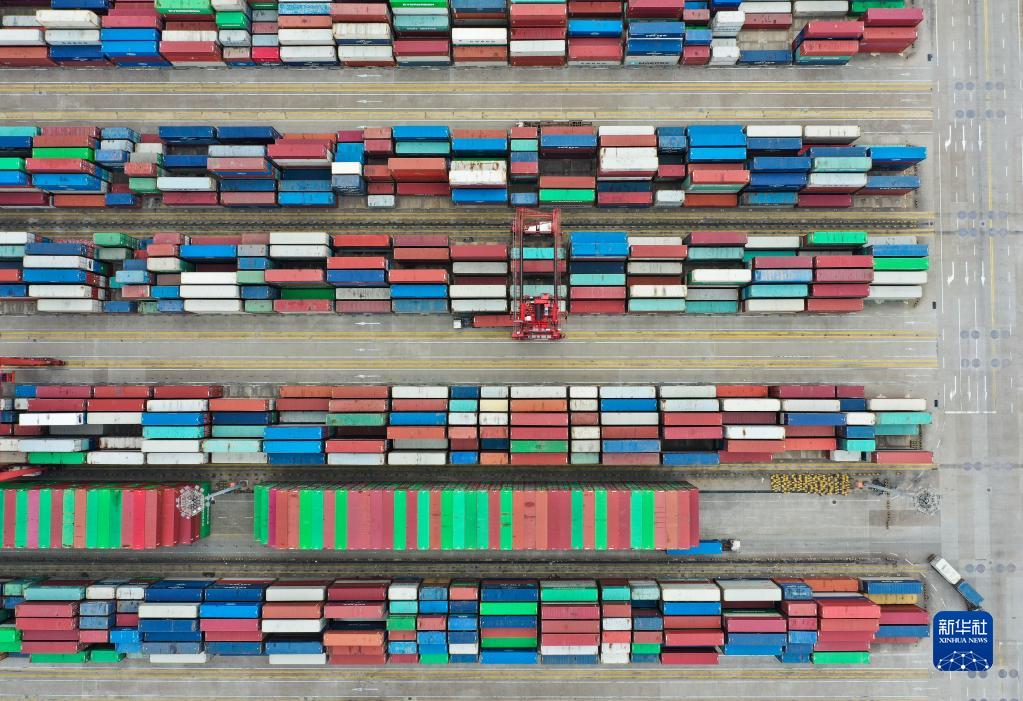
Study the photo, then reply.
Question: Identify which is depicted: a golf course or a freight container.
freight container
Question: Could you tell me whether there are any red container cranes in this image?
Yes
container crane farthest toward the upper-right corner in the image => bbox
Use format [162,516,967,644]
[508,206,566,338]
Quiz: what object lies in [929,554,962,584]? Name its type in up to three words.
shipping container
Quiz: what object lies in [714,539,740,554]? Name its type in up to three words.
vehicle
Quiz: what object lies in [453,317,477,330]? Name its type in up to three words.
vehicle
